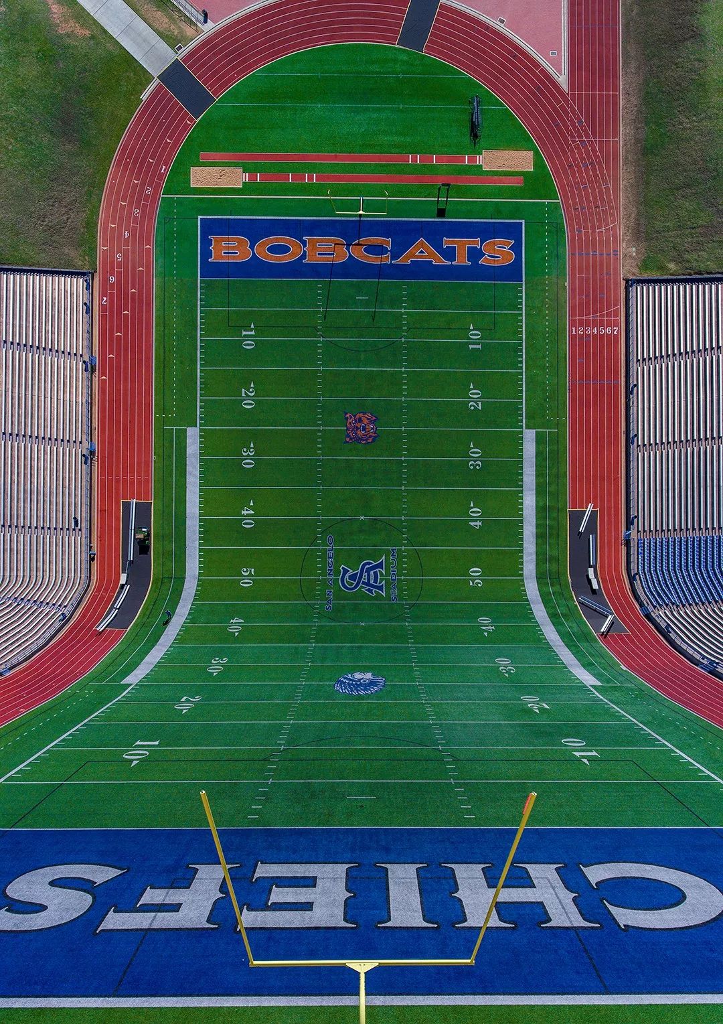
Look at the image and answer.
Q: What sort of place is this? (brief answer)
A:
sports ground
